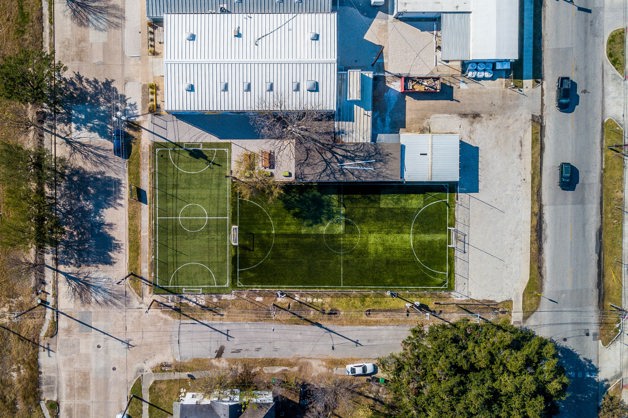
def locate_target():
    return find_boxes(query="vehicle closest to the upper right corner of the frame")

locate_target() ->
[555,77,572,111]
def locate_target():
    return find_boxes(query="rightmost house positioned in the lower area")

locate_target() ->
[246,386,288,418]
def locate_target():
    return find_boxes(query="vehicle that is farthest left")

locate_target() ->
[112,129,126,160]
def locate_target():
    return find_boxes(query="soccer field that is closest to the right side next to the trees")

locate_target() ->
[231,180,456,293]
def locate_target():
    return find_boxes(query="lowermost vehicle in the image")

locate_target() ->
[345,364,375,378]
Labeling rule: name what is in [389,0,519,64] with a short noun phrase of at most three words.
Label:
building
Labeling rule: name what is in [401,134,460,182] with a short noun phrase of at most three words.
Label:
shed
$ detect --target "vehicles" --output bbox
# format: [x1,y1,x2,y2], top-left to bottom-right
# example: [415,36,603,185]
[555,77,572,111]
[557,164,573,189]
[345,364,375,378]
[112,129,126,160]
[370,0,383,6]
